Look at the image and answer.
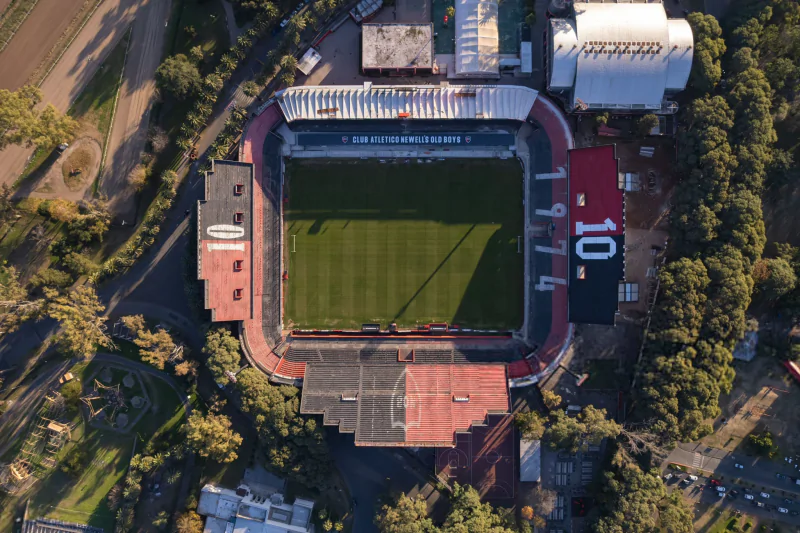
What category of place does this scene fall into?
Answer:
sports ground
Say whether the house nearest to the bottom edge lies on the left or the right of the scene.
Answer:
left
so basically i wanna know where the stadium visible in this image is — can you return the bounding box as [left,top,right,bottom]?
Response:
[197,81,639,447]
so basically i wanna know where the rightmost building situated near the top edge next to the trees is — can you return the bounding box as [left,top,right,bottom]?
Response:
[542,0,695,118]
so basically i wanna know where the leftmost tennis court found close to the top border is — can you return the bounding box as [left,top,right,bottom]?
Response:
[433,0,454,54]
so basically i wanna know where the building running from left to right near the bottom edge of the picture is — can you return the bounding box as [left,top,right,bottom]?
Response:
[197,480,316,533]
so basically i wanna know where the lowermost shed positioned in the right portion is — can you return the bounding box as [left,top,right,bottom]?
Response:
[518,437,540,481]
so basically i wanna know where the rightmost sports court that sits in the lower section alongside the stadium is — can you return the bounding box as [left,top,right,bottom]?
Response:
[470,400,517,502]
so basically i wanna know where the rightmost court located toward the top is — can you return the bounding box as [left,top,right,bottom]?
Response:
[498,0,521,54]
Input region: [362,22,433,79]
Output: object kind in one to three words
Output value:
building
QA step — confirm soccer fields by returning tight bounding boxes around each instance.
[283,156,524,333]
